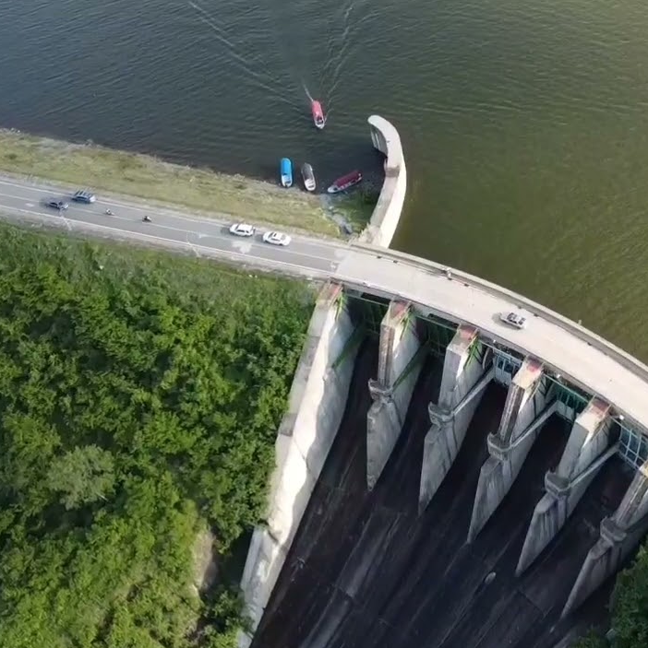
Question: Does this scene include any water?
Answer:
Yes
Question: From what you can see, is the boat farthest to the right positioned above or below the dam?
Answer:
above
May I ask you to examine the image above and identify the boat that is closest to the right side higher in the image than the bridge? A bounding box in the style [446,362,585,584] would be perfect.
[327,171,363,193]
